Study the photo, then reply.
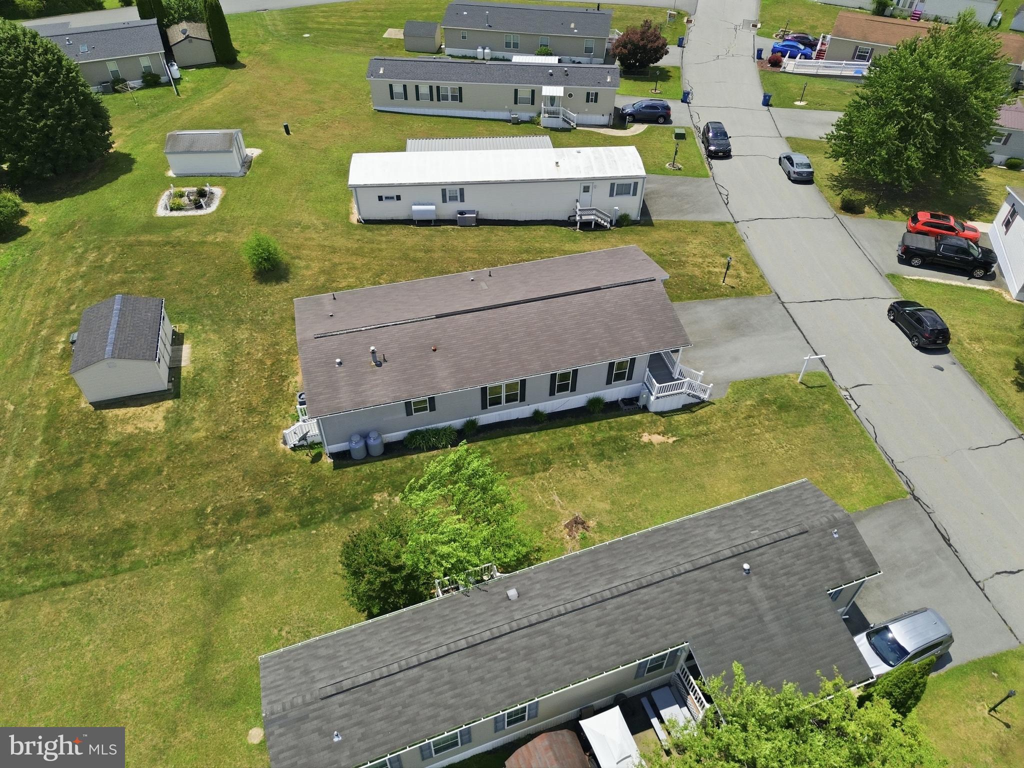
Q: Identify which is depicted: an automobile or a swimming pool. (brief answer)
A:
automobile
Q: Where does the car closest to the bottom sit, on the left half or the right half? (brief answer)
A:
right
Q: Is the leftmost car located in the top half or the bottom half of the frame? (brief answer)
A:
top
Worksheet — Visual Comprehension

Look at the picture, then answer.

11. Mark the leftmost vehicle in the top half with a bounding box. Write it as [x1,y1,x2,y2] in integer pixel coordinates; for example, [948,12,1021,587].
[620,98,673,123]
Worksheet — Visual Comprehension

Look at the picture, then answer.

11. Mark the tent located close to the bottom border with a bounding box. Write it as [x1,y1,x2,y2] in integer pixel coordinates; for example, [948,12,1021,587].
[579,706,646,768]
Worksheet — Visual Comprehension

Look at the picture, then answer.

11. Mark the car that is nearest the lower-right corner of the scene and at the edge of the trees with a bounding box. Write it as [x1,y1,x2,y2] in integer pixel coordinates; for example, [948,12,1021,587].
[850,606,958,688]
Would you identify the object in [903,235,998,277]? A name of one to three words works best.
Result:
truck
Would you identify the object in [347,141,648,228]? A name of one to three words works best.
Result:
house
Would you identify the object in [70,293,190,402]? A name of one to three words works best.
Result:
shed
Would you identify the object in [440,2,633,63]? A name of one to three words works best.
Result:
house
